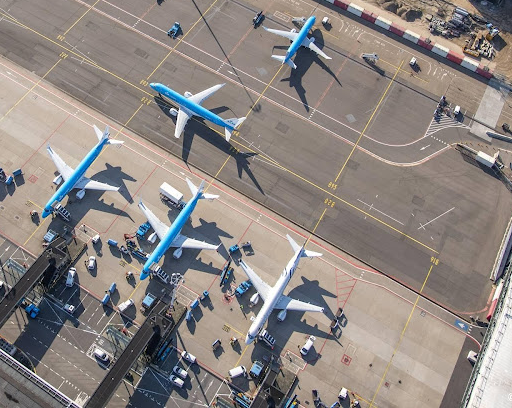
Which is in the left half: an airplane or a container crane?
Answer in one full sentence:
There is an airplane in the left half.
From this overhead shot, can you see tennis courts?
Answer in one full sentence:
No, no tennis court is visible in the scene.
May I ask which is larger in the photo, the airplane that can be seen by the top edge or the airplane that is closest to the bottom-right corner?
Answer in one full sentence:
The airplane that is closest to the bottom-right corner takes up more space than the airplane that can be seen by the top edge.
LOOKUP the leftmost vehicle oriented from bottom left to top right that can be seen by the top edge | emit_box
[168,19,181,34]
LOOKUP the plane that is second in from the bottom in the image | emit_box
[139,177,220,277]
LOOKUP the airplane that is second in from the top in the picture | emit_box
[151,82,248,141]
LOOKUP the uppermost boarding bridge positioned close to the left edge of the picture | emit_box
[0,236,73,330]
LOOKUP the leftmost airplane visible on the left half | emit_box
[44,123,125,215]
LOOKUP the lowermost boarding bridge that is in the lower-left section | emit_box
[84,302,175,408]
